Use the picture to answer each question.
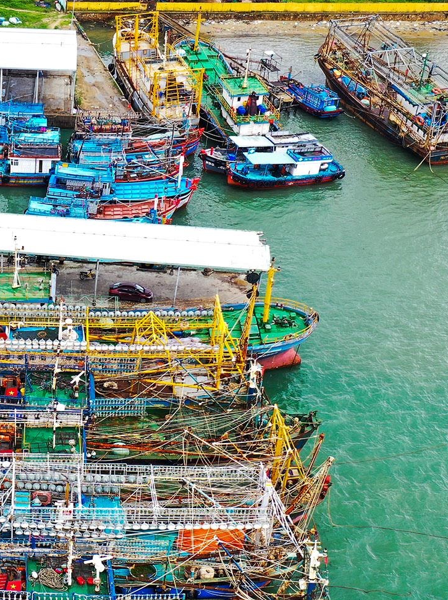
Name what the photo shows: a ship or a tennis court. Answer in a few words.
ship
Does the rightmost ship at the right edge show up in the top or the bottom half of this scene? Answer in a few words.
top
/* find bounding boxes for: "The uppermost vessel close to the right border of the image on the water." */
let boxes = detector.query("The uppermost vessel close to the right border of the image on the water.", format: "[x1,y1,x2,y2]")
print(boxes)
[306,26,448,170]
